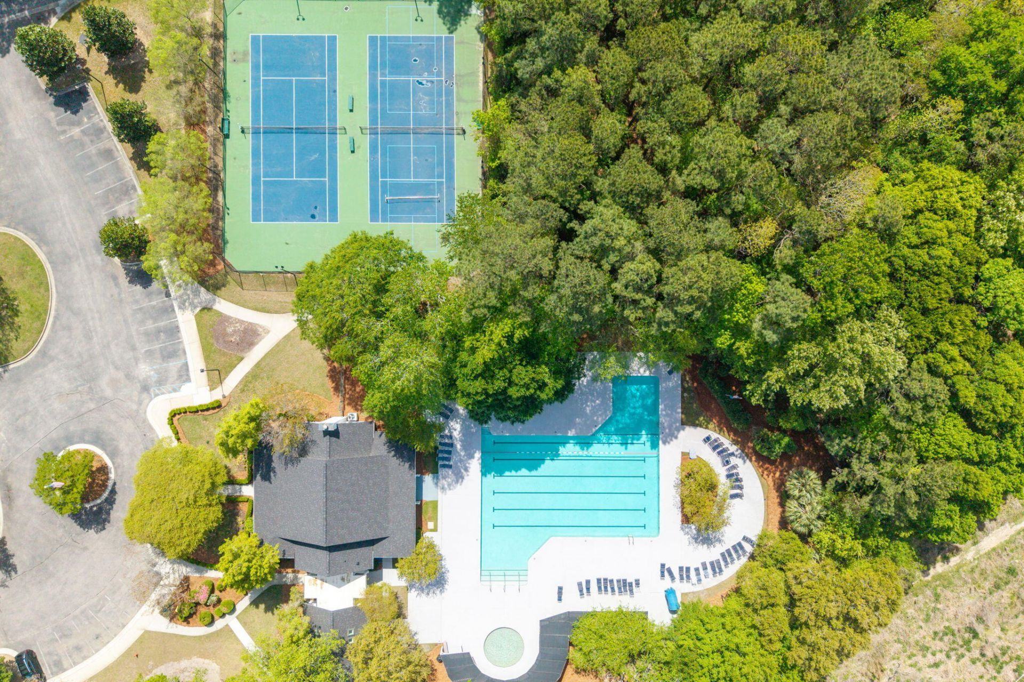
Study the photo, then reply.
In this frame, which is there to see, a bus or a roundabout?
roundabout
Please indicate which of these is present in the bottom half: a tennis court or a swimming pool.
swimming pool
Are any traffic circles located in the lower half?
Yes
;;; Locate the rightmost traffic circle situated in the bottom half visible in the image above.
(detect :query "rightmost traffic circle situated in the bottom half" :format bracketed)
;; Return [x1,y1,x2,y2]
[55,444,115,506]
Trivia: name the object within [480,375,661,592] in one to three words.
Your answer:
swimming pool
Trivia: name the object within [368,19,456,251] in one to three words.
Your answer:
tennis court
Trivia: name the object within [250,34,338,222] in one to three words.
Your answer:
tennis court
